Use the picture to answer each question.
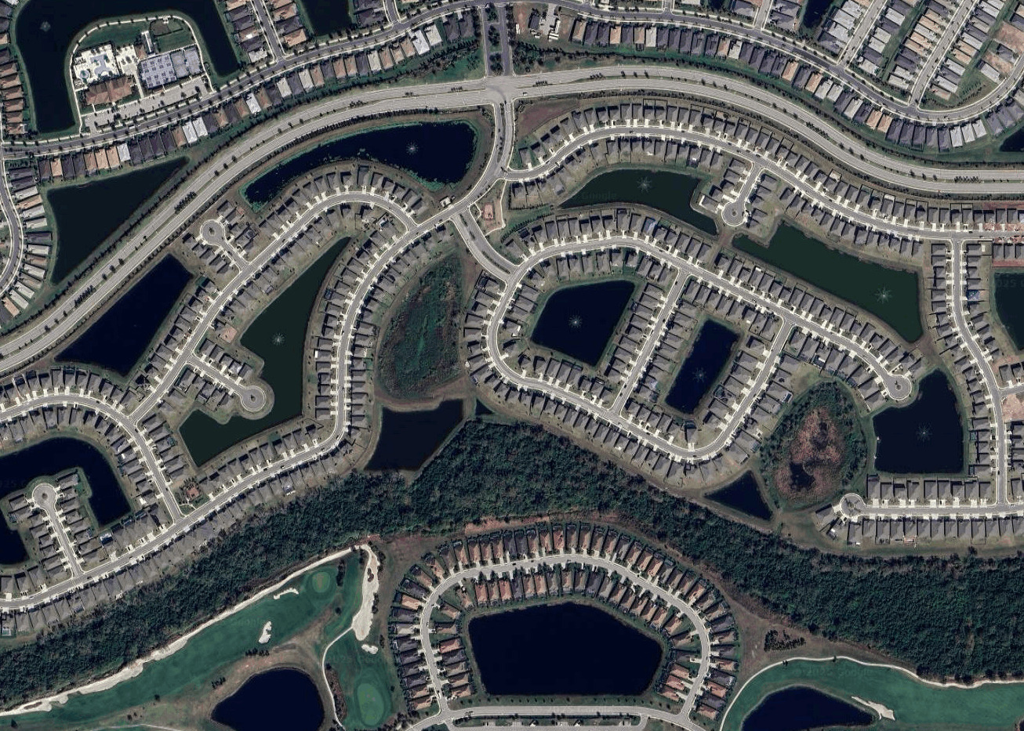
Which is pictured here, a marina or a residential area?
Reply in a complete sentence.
This image shows a residential area.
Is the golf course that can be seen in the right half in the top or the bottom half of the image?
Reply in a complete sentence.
It is in the bottom half that the golf course that can be seen in the right half appears.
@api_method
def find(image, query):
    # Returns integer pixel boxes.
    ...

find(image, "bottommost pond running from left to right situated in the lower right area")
[742,686,873,731]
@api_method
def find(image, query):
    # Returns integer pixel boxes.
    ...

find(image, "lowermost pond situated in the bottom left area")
[211,669,324,731]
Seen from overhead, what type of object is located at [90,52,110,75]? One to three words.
swimming pool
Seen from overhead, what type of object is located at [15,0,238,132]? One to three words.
pond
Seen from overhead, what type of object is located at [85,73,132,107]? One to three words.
building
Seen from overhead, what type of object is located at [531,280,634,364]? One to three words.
pond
